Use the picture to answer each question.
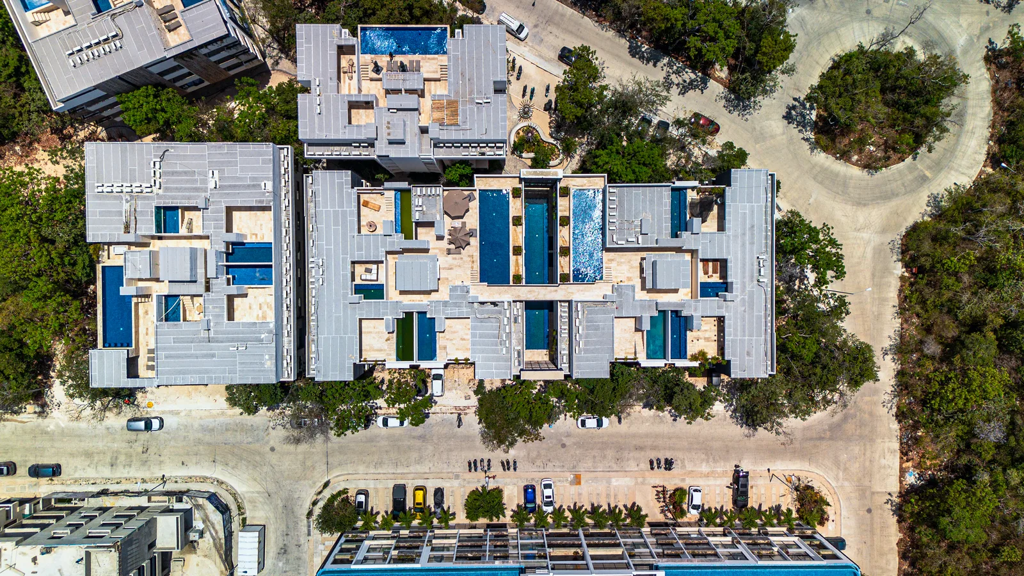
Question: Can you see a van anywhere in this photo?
Yes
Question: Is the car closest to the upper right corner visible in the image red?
Yes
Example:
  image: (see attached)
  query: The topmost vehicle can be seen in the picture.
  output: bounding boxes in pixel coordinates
[496,11,531,42]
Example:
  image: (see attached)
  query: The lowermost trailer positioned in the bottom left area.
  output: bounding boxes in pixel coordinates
[239,522,272,576]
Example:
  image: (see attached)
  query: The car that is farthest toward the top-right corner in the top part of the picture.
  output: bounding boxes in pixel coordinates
[688,112,720,137]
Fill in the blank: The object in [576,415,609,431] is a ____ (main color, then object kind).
white car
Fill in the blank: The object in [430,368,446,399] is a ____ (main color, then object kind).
white car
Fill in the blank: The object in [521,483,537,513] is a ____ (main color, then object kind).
blue car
